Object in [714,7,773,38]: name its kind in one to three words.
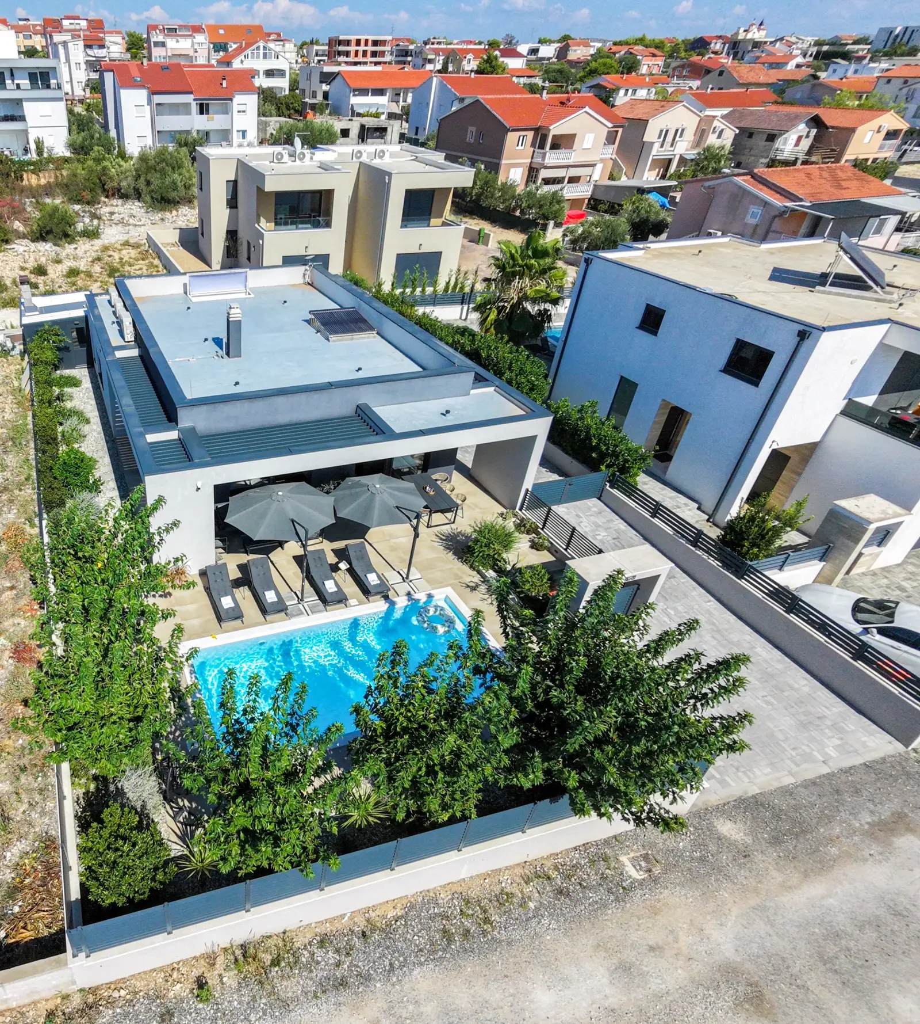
house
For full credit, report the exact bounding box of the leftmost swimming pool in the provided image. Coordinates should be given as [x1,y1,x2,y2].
[179,587,539,772]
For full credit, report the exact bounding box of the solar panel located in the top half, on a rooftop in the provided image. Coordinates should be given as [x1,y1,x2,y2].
[812,240,903,302]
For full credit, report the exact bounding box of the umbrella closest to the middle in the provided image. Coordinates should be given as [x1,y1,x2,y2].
[325,472,434,593]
